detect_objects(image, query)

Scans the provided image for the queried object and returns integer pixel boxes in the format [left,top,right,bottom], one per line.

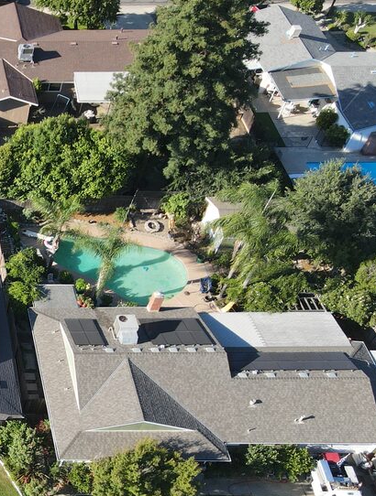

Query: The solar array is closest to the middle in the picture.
[136,318,214,344]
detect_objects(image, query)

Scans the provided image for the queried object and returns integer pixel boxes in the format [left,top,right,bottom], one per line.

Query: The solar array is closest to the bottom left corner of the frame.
[64,318,106,344]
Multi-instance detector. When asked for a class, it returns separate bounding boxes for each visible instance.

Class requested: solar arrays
[136,318,214,344]
[230,352,356,369]
[64,318,106,344]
